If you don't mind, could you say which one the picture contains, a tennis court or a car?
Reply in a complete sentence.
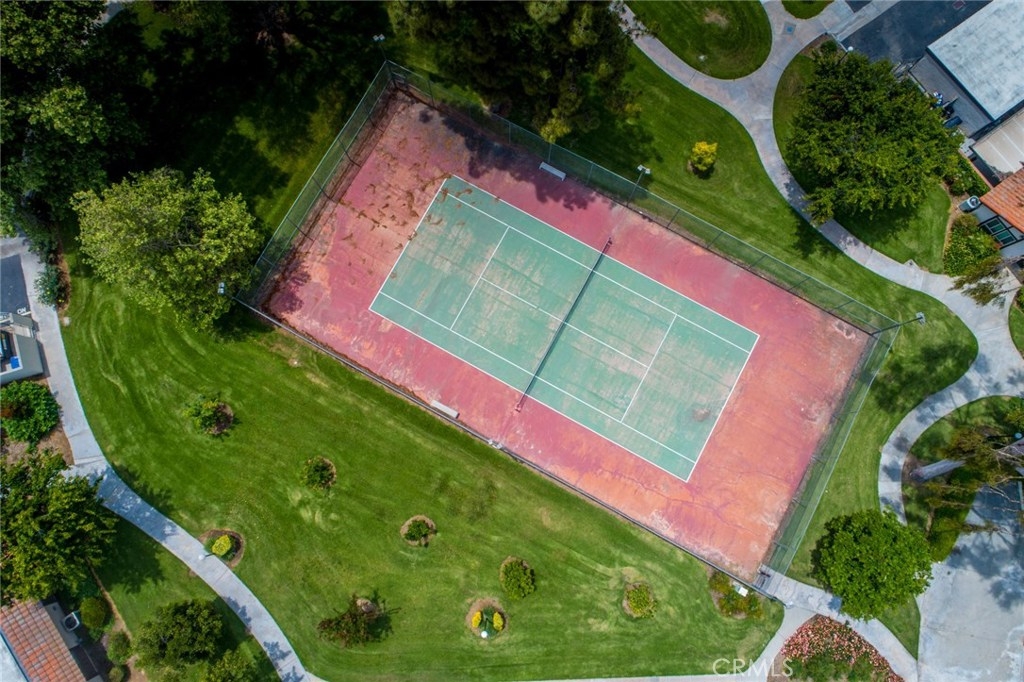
It is a tennis court that can be seen here.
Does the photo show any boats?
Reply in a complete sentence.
No, I find no boat anywhere in the image.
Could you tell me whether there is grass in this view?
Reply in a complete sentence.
Yes, the picture does contain grass.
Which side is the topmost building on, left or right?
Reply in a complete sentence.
The topmost building sits on the right side.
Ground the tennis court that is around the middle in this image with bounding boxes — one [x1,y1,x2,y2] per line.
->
[257,89,874,586]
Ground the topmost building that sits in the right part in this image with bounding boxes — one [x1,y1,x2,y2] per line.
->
[914,0,1024,133]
